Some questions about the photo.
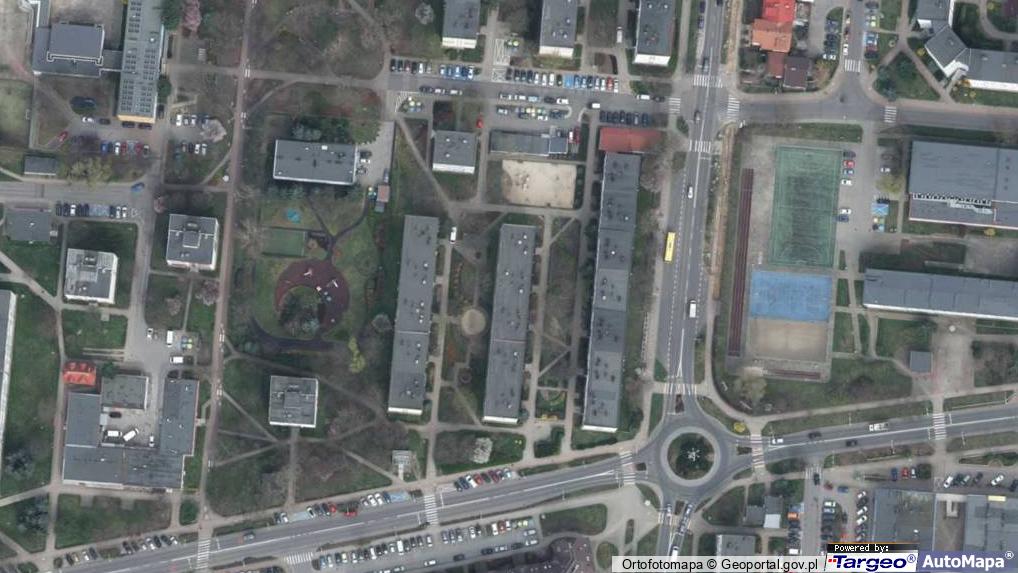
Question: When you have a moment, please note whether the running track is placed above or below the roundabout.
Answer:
above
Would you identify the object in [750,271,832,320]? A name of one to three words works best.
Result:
sports court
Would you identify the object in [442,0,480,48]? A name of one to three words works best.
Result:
building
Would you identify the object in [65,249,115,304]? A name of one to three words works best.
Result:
house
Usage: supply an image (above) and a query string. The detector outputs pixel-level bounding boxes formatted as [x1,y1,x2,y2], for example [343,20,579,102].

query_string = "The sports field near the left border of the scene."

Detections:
[0,82,29,138]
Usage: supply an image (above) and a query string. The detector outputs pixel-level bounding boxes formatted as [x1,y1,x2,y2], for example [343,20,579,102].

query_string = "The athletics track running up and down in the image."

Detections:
[727,168,754,356]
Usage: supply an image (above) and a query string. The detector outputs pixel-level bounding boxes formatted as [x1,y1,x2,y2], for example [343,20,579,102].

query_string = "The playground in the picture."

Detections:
[262,247,352,340]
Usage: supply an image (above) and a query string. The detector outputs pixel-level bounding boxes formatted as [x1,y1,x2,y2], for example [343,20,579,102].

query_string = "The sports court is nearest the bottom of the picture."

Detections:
[747,319,828,361]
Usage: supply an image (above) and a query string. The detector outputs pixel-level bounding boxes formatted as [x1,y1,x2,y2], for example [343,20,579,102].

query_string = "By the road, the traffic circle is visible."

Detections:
[619,384,752,532]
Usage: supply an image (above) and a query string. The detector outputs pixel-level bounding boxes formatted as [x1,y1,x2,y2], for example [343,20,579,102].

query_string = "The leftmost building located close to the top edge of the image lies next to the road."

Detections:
[33,0,166,124]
